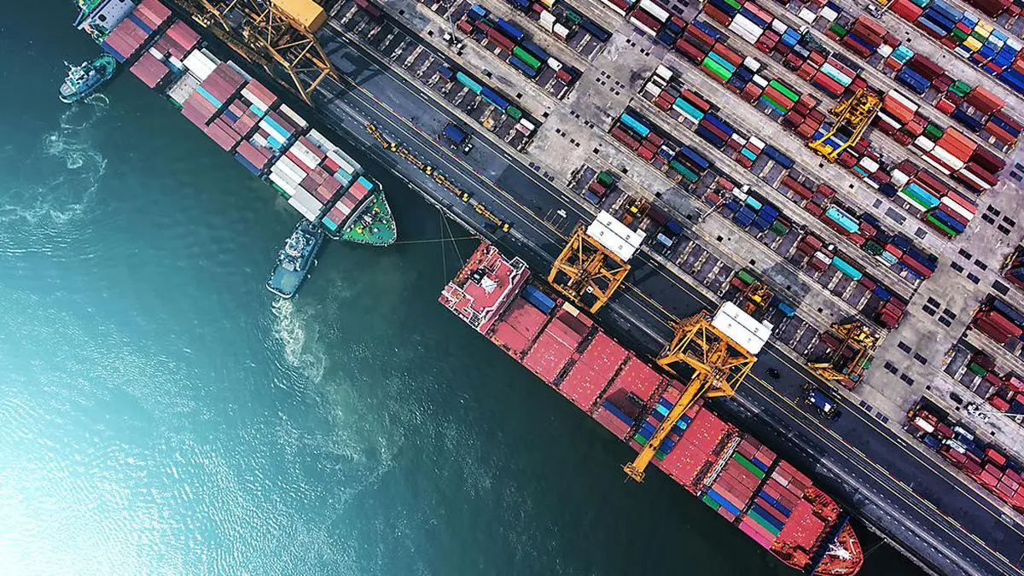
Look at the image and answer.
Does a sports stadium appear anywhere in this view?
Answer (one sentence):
No, I can't see a single sports stadium in this photo.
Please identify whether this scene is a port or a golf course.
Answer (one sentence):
What you see here is a port.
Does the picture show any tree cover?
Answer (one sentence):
No, no tree cover is visible.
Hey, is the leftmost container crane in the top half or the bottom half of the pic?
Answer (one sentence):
The top half of the photo is where the leftmost container crane is.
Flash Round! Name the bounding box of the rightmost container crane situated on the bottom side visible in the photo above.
[805,320,886,384]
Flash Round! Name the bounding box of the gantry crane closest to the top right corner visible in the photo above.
[804,87,884,166]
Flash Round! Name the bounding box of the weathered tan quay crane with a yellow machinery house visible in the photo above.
[230,0,343,112]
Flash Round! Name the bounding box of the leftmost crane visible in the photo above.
[183,0,274,63]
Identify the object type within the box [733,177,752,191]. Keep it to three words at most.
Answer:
vehicle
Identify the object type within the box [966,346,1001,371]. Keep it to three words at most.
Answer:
shipping container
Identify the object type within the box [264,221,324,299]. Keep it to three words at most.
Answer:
boat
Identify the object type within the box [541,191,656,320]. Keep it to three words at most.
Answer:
container crane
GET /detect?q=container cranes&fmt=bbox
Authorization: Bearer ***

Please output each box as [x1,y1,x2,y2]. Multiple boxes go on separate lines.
[230,0,343,112]
[621,280,782,485]
[805,320,886,384]
[183,0,274,63]
[541,191,656,320]
[804,87,884,166]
